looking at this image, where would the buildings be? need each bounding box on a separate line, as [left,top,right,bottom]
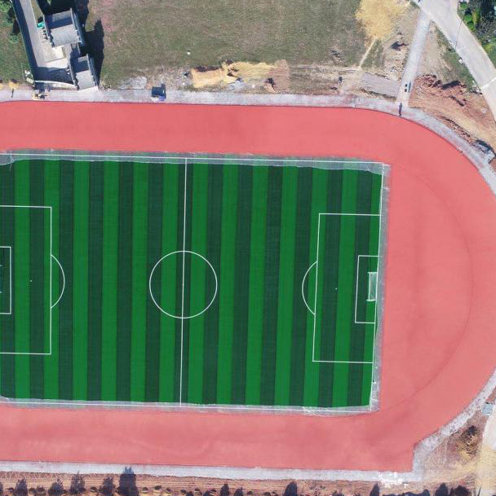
[45,6,85,53]
[69,52,99,94]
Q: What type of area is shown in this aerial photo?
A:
sports ground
